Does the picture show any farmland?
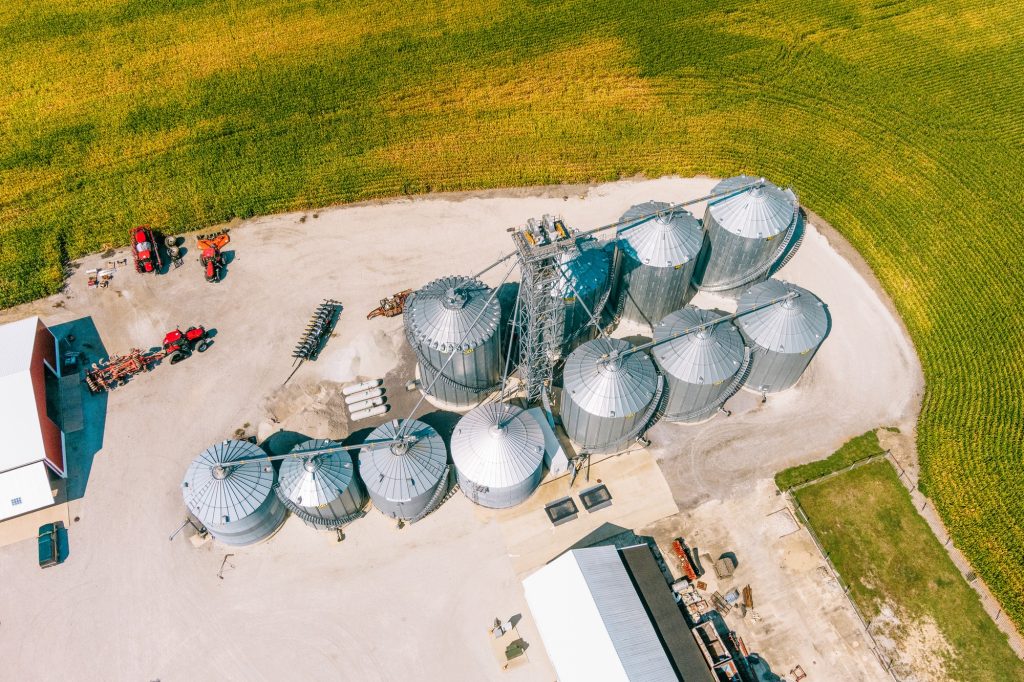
Yes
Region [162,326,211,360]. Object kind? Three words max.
work vehicle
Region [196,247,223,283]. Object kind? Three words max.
work vehicle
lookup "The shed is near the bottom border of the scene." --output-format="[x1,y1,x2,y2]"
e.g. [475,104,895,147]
[523,541,714,682]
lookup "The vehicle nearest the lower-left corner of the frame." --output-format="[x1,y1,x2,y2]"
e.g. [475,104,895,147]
[32,521,62,573]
